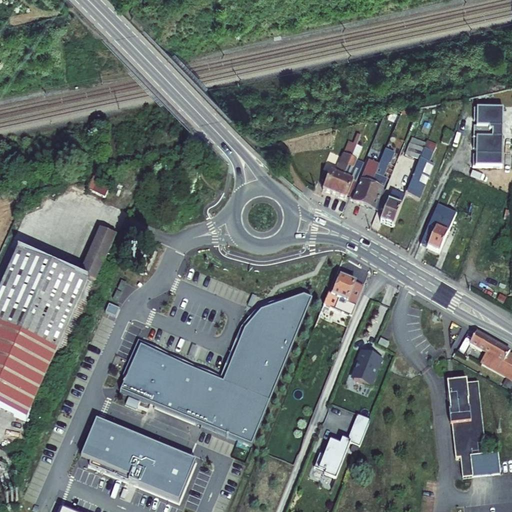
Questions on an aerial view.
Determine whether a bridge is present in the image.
Yes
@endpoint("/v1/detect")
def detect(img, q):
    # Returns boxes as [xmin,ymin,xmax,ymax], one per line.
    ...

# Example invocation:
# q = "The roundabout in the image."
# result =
[226,181,299,254]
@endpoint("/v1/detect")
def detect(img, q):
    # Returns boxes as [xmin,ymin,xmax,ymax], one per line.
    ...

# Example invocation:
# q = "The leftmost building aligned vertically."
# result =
[0,241,88,422]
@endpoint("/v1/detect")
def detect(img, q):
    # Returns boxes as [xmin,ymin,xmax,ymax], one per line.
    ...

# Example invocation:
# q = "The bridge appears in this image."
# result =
[104,10,225,132]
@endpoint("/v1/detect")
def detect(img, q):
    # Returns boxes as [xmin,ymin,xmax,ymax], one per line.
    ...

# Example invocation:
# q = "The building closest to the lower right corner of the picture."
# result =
[471,452,501,480]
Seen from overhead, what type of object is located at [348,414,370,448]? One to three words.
building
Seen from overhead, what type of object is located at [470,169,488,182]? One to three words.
vehicle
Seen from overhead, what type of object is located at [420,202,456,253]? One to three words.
barn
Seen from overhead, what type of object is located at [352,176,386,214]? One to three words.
house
